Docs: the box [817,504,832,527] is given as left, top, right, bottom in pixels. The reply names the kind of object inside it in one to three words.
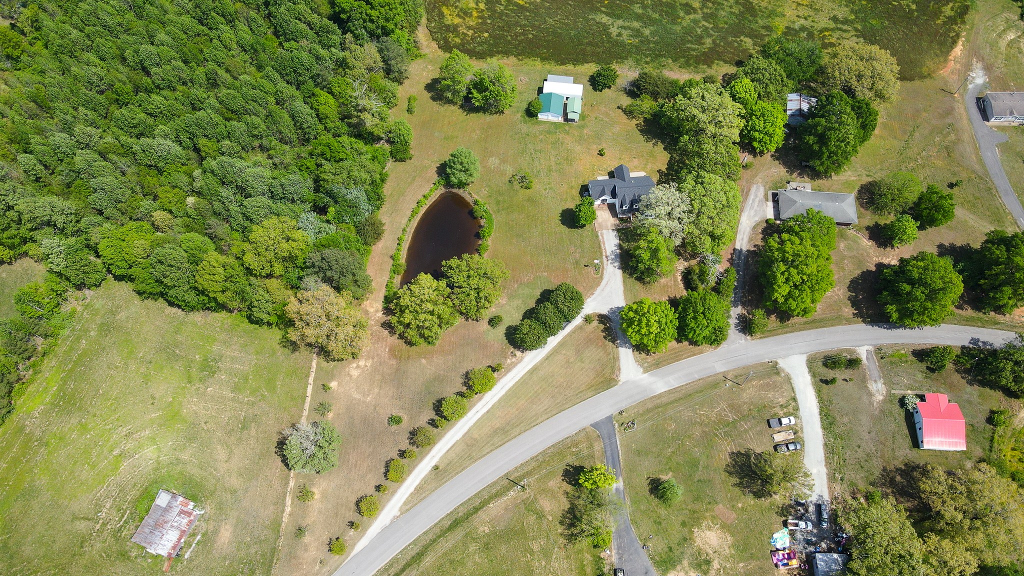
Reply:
car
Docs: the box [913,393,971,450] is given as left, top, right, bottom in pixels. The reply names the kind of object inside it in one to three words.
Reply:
house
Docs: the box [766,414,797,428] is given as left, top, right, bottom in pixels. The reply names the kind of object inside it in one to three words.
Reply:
vehicle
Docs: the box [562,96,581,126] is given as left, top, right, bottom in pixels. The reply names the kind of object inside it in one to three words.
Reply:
shed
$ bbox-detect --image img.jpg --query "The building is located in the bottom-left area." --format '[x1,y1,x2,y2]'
[130,493,202,559]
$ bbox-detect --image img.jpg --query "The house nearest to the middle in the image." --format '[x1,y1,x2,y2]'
[587,162,659,229]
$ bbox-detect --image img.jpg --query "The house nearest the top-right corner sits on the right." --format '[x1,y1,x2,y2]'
[981,87,1024,123]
